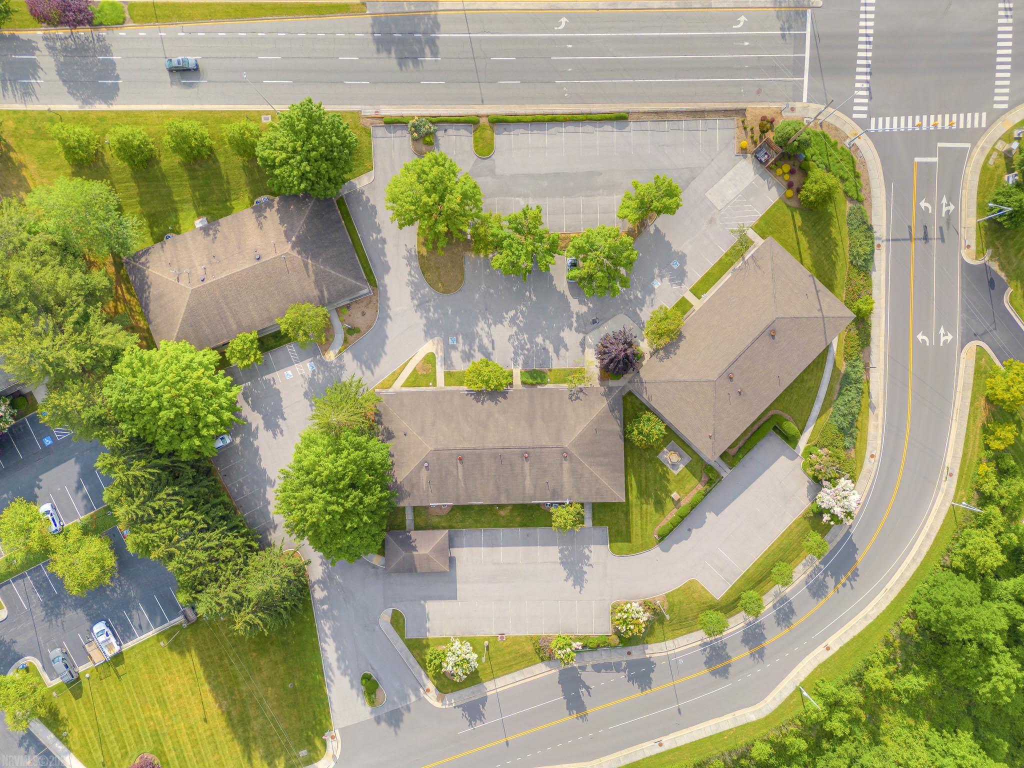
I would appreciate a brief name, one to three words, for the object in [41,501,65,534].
car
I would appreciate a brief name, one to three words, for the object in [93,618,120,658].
truck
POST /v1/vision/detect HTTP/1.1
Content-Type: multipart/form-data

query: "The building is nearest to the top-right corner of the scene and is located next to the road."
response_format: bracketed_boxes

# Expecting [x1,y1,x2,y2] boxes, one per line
[626,236,856,462]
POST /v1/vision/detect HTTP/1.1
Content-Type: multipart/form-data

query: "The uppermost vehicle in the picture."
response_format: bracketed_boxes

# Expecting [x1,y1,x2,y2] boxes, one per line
[166,57,200,73]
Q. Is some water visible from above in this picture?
No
